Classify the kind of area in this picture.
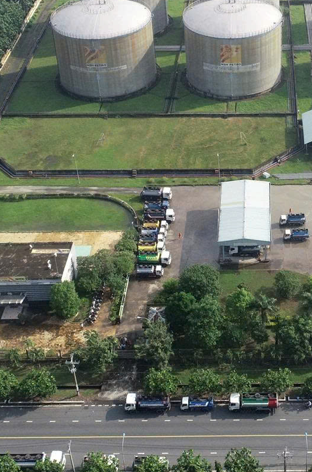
industrial area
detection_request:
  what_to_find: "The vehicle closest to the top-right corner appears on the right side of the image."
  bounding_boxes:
[281,212,305,225]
